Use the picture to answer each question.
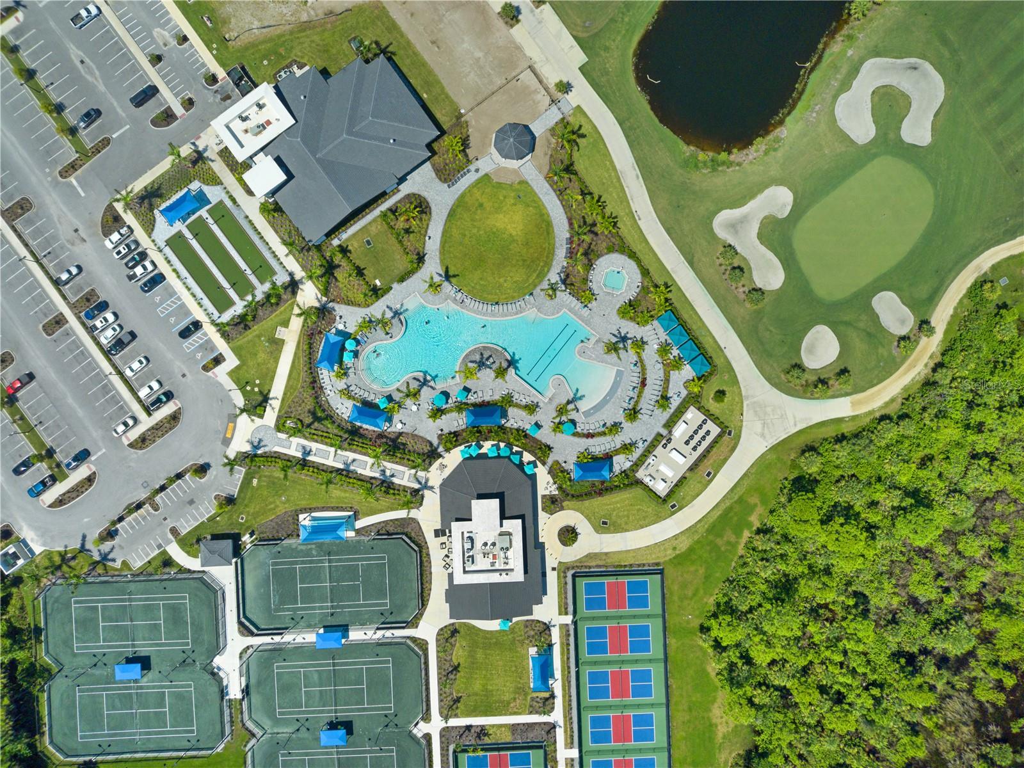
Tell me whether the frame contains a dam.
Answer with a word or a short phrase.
No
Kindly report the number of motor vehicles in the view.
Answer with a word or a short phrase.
22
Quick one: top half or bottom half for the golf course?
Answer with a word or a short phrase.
top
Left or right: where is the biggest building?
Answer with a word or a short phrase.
left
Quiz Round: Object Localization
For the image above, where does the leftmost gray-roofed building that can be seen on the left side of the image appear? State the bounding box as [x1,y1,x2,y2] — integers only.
[200,539,236,567]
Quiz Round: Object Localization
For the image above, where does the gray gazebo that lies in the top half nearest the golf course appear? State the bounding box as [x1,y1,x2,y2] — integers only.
[493,121,534,164]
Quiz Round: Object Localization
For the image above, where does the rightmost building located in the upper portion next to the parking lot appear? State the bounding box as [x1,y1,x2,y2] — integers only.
[210,53,440,245]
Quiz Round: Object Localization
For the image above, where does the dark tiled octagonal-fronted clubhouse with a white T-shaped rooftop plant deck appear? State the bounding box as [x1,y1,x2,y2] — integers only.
[439,458,542,620]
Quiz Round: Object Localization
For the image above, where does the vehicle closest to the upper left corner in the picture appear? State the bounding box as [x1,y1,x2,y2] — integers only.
[71,4,100,29]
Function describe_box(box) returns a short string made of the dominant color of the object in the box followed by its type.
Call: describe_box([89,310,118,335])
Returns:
white truck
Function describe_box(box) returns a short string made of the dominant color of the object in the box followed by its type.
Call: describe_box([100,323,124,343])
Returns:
white car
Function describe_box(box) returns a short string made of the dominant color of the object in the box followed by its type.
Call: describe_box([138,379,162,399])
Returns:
white car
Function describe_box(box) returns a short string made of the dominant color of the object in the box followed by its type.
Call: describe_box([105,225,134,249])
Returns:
white truck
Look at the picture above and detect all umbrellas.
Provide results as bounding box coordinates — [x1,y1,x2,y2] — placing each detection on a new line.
[510,452,521,463]
[458,447,471,460]
[526,422,542,438]
[468,443,481,458]
[499,619,510,630]
[562,422,576,435]
[343,352,353,362]
[456,389,469,401]
[523,463,536,475]
[345,339,356,350]
[377,395,390,410]
[487,446,498,457]
[499,446,511,458]
[433,394,447,407]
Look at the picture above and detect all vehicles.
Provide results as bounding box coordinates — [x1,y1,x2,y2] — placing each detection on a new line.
[77,108,102,128]
[89,310,118,335]
[178,320,202,340]
[114,415,137,435]
[65,449,90,469]
[85,300,109,320]
[71,4,100,29]
[141,272,165,293]
[129,84,158,109]
[126,259,156,284]
[138,379,162,399]
[6,371,35,395]
[115,239,138,260]
[57,265,81,285]
[124,249,148,269]
[105,225,134,249]
[108,330,137,354]
[13,454,35,474]
[125,356,149,376]
[145,389,175,413]
[100,323,124,343]
[28,473,58,497]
